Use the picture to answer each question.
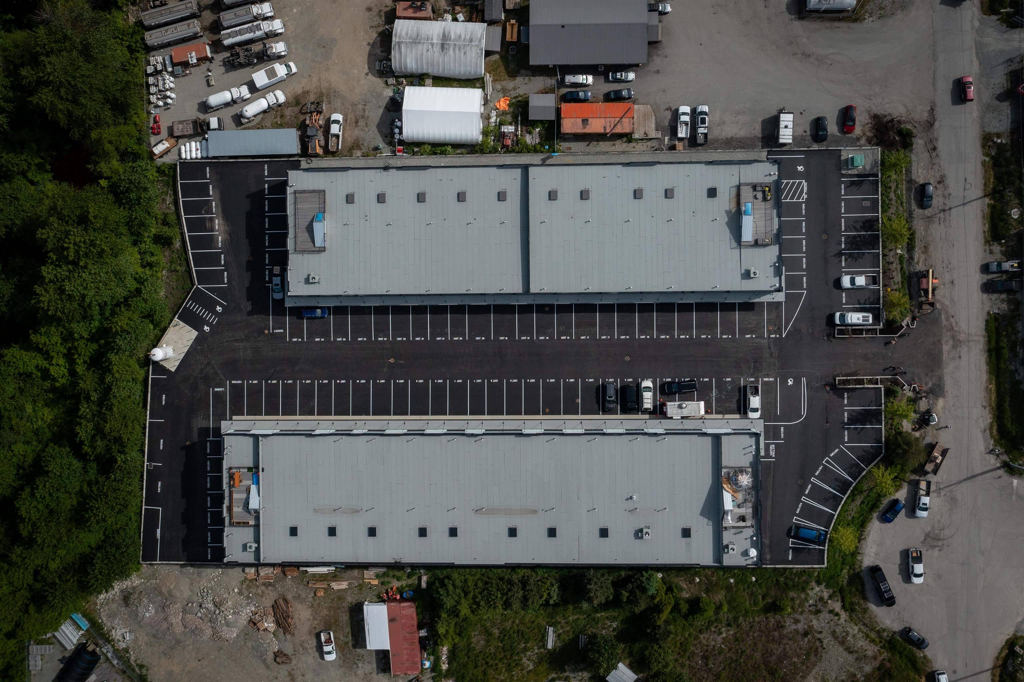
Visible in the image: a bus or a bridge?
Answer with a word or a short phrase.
bus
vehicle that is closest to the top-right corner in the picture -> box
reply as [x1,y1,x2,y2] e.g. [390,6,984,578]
[957,75,976,103]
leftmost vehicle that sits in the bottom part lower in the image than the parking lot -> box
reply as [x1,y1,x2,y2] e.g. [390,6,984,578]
[320,628,337,661]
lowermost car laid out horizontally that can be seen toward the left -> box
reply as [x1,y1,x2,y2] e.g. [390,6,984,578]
[302,306,330,320]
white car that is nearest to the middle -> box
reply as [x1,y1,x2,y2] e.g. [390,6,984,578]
[640,380,654,411]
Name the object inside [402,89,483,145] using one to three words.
building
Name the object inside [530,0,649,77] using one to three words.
building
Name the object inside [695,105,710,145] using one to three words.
vehicle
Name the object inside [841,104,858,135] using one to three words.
car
